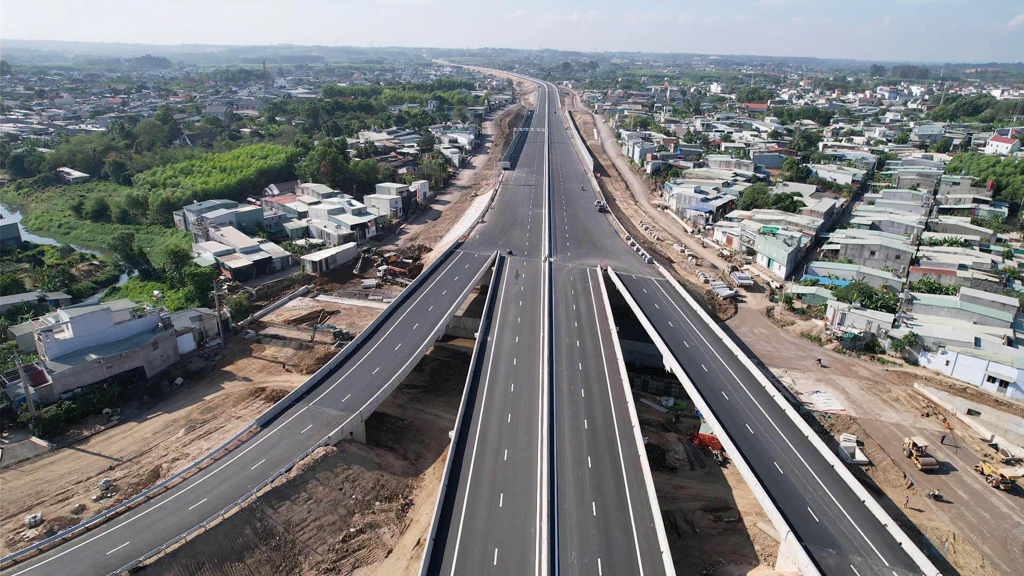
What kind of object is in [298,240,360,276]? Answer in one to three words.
house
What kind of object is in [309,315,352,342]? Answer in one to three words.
work vehicle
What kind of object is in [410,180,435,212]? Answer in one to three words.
house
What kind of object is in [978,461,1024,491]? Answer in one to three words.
work vehicle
